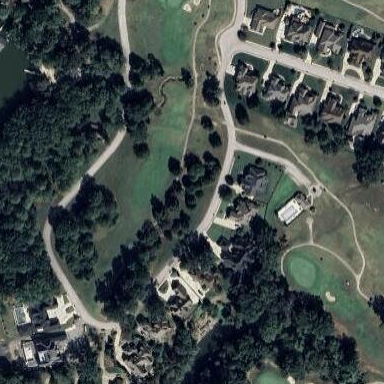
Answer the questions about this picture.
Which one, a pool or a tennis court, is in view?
pool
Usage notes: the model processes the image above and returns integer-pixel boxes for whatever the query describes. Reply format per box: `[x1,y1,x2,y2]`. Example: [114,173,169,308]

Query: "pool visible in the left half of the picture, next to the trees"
[13,305,29,324]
